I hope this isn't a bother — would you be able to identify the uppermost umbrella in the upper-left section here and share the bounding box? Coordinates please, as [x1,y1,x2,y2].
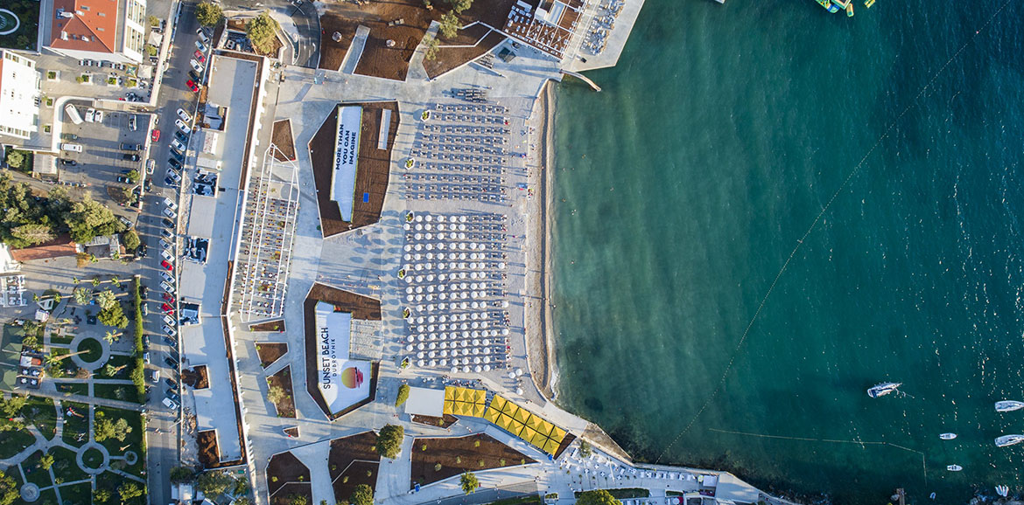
[149,31,162,47]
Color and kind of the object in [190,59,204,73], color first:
white car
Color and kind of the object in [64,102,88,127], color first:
white bus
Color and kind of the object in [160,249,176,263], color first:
white car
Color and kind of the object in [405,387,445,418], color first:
white tent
